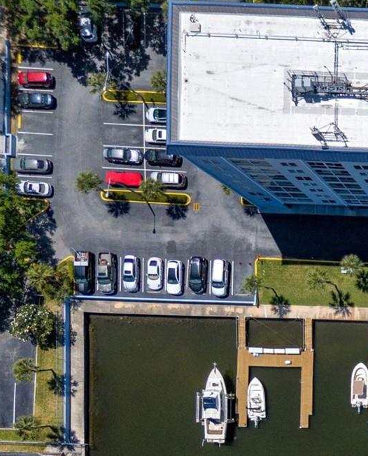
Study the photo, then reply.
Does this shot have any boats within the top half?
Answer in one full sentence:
No, there's no boat to be seen within the top half.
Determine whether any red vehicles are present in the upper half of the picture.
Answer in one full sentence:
Yes, a red vehicle shows up in the upper half of the picture.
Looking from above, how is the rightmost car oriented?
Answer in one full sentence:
Seen from above, the rightmost car lies from top to bottom.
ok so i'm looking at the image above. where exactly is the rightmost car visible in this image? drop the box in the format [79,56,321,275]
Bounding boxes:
[209,257,229,298]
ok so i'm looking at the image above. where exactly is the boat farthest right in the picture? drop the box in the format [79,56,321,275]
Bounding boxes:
[351,359,368,413]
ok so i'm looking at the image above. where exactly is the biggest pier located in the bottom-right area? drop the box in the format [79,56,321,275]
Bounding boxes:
[236,348,314,429]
